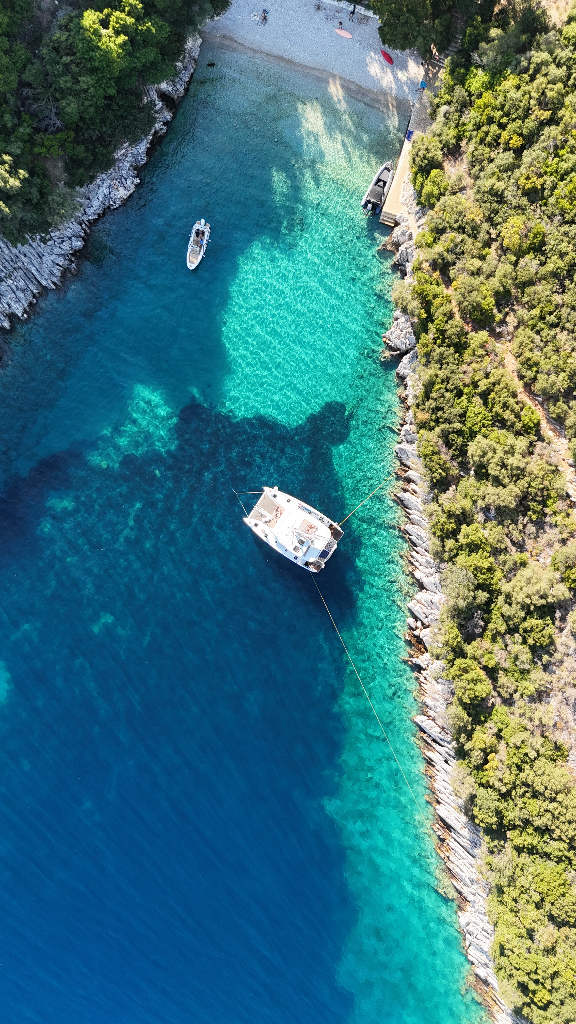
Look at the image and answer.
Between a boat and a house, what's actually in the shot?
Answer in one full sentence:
There is a boat in the scene.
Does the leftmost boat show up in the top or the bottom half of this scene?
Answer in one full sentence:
The leftmost boat is in the top half of the image.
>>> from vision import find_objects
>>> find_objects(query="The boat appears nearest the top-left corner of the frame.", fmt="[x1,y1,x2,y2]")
[185,216,209,269]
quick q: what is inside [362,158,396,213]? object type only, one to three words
boat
